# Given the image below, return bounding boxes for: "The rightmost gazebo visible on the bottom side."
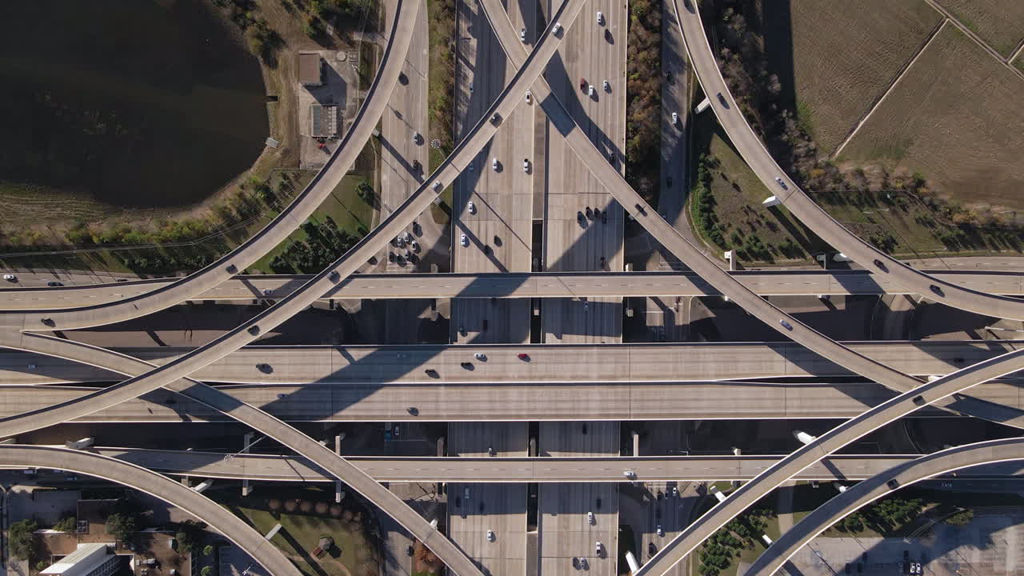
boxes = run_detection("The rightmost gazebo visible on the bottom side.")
[313,535,333,555]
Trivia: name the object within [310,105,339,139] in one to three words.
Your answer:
building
